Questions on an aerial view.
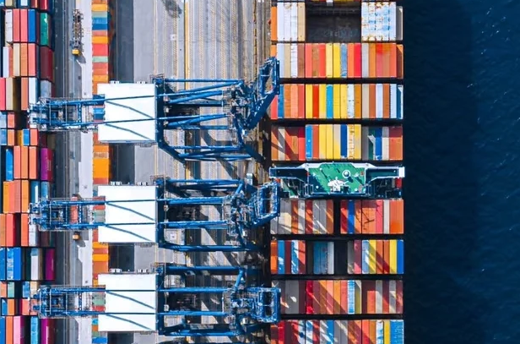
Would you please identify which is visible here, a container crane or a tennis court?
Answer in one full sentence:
Visible in the photo is a container crane.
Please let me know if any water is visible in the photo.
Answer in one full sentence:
Yes, some water is visible.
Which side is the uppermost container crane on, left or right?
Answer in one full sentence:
You can find the uppermost container crane on the left side of the picture.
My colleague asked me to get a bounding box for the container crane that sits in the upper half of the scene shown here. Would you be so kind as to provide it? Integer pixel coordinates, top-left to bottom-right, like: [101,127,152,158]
[27,60,279,178]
